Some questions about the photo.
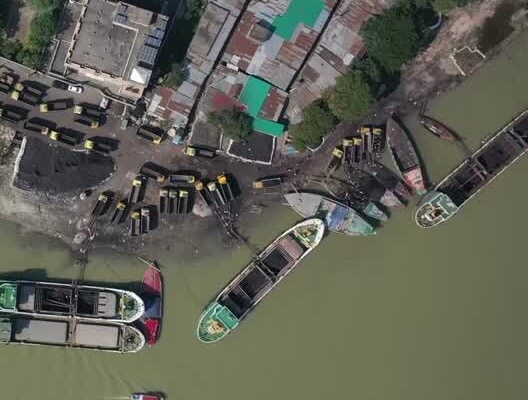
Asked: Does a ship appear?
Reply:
Yes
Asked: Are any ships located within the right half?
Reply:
Yes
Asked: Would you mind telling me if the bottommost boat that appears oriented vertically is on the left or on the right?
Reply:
left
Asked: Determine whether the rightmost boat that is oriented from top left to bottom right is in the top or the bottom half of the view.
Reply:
top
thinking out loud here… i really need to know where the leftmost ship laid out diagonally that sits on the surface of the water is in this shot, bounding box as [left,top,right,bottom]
[197,217,326,340]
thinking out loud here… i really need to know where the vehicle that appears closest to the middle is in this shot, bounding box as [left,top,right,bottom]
[252,176,280,188]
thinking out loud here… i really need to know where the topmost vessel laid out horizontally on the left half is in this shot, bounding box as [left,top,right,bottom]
[0,280,146,323]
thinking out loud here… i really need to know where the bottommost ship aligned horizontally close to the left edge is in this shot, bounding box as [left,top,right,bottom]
[0,314,147,355]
